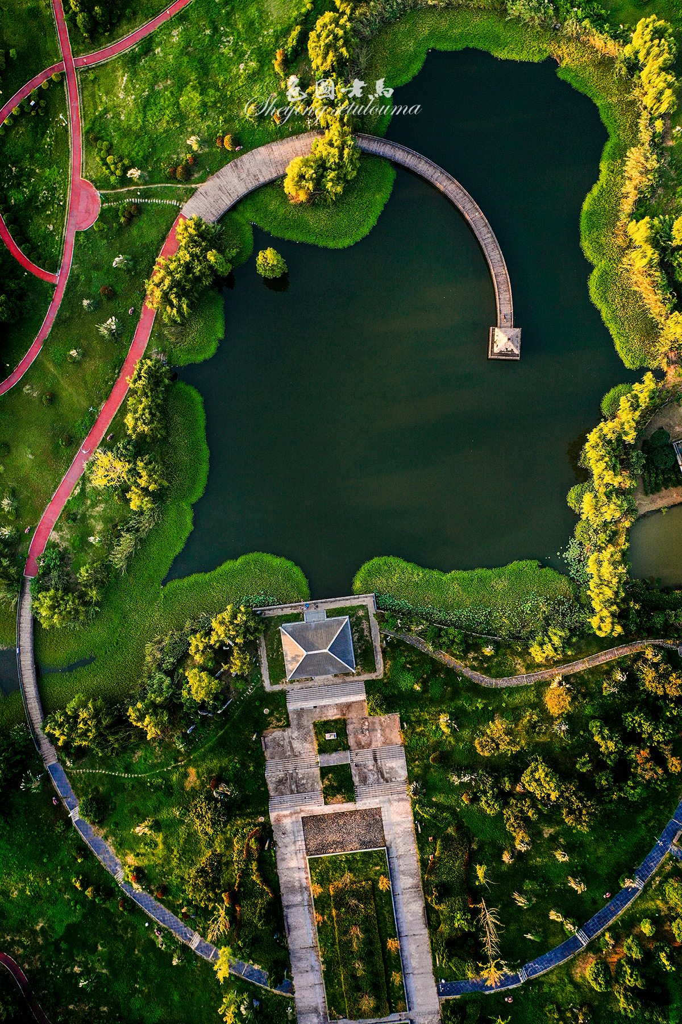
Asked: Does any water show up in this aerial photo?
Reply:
Yes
